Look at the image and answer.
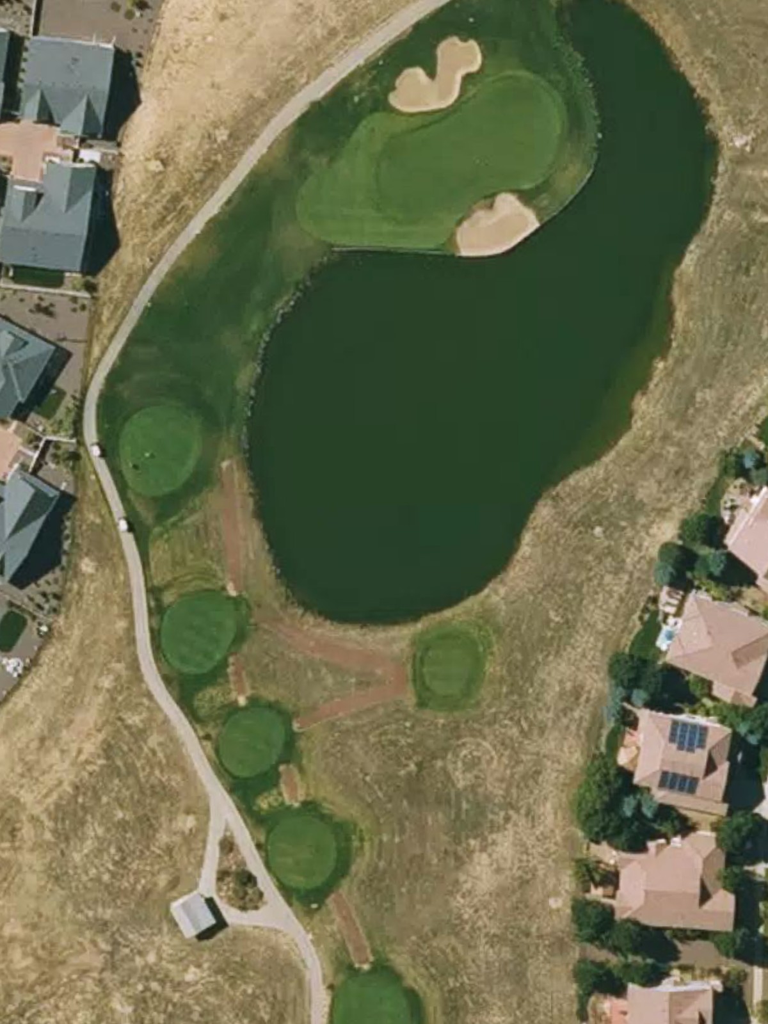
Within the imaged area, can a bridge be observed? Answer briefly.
No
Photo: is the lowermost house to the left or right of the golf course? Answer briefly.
right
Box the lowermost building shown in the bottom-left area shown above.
[170,891,215,938]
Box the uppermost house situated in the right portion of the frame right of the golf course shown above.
[723,476,768,584]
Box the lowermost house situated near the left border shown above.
[0,464,60,581]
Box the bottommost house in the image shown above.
[628,978,712,1024]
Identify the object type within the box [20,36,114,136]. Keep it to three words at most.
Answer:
house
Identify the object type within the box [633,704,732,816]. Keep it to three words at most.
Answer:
house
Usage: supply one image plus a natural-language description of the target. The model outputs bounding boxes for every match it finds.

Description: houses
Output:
[0,316,57,418]
[628,978,712,1024]
[633,704,732,816]
[20,36,114,136]
[0,29,9,119]
[615,824,735,932]
[0,464,60,581]
[723,476,768,584]
[667,587,768,707]
[0,164,97,273]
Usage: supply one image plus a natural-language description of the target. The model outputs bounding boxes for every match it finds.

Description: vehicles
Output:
[91,443,101,457]
[119,518,129,532]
